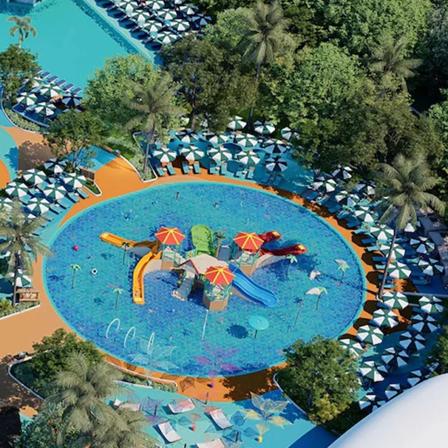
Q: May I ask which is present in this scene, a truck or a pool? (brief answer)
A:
pool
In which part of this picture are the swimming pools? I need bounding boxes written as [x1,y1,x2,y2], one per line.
[0,0,160,91]
[47,182,363,374]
